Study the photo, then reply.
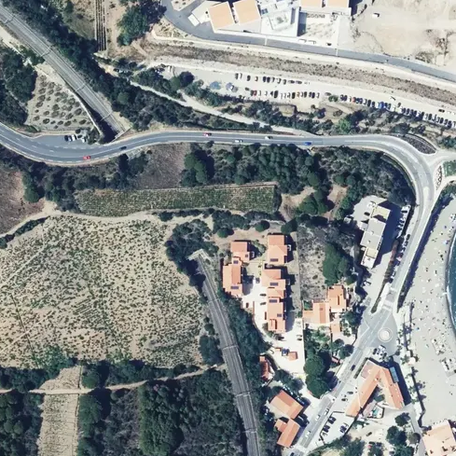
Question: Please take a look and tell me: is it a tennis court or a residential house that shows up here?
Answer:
residential house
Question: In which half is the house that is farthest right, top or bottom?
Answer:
bottom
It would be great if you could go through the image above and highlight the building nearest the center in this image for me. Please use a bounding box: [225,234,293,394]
[230,241,250,262]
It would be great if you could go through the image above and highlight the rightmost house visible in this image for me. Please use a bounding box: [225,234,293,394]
[422,420,456,456]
